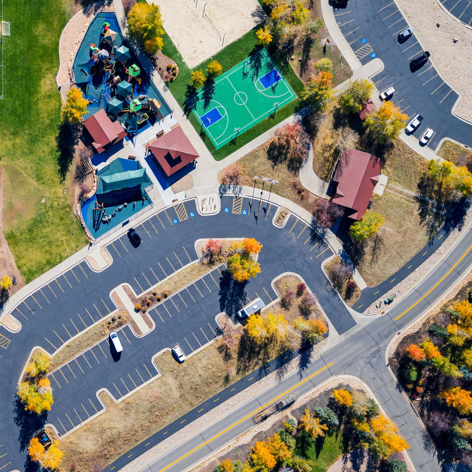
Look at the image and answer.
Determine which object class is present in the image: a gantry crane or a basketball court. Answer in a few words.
basketball court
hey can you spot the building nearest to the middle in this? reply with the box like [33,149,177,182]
[148,127,199,177]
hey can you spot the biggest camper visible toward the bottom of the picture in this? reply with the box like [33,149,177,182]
[236,297,267,317]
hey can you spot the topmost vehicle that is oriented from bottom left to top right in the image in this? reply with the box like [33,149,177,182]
[396,28,414,41]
